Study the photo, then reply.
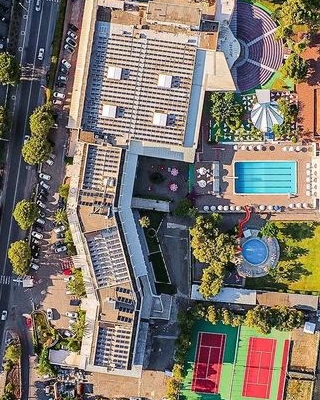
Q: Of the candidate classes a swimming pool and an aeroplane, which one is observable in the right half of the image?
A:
swimming pool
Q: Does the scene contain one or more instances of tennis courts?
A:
Yes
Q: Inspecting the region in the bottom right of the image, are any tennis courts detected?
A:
Yes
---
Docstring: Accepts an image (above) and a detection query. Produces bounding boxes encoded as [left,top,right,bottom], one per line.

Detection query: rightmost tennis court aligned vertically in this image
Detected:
[242,337,277,399]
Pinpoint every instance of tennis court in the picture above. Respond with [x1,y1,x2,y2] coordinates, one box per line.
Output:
[242,337,277,399]
[192,332,226,394]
